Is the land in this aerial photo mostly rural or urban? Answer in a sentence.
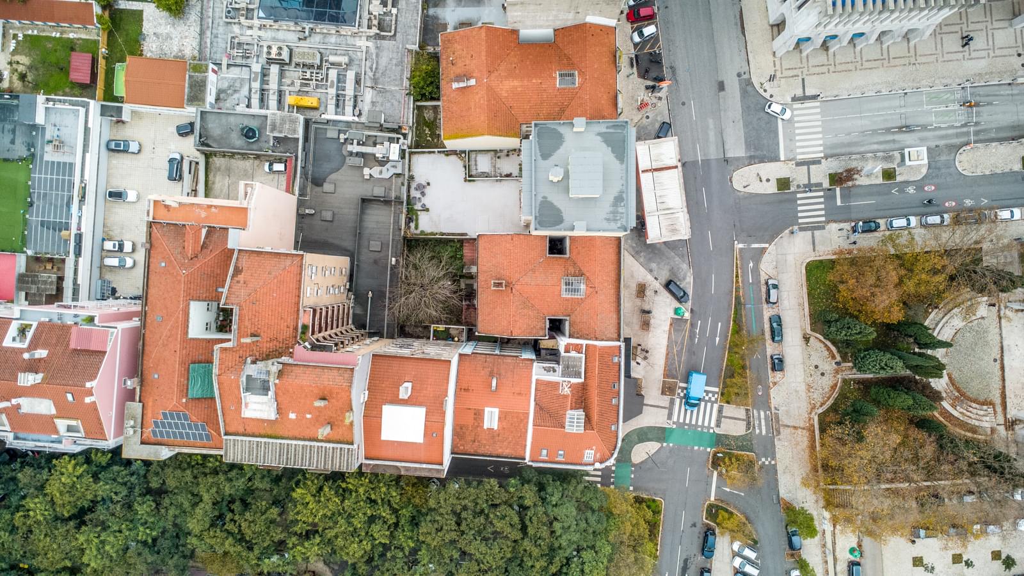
From above, the setting appears urban.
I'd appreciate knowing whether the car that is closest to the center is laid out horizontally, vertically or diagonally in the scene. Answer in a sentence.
The car that is closest to the center is oriented diagonally.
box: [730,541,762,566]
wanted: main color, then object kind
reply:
white car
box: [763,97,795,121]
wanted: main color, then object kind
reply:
white car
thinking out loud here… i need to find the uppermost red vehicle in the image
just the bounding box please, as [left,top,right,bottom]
[627,4,658,21]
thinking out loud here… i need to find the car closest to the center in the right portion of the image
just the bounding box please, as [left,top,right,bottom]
[665,276,691,306]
